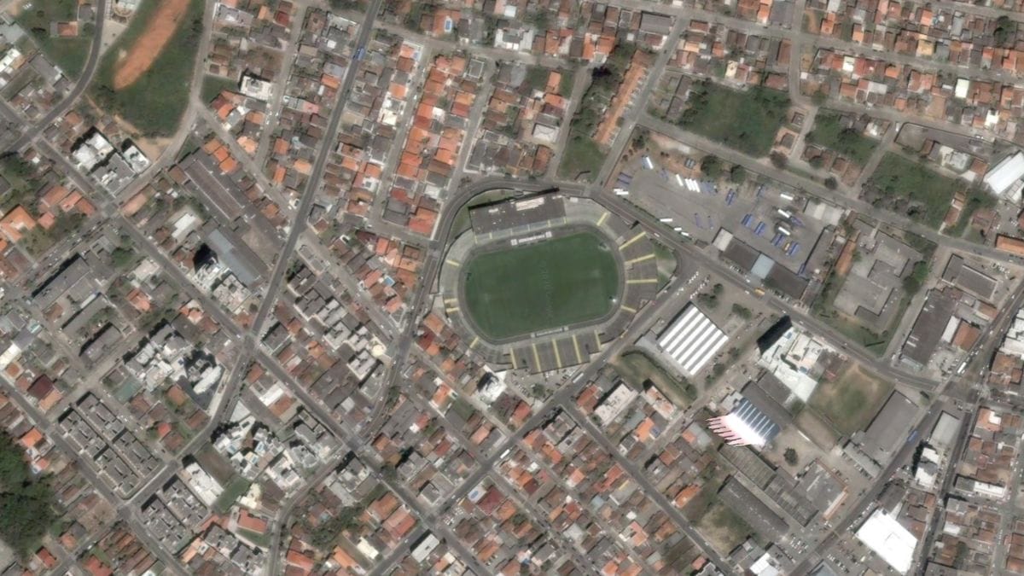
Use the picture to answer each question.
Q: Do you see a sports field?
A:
Yes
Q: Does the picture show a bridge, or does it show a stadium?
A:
stadium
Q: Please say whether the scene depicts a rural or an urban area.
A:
urban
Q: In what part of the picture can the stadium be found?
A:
center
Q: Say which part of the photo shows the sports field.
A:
center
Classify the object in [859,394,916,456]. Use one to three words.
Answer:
building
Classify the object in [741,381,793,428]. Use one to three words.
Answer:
building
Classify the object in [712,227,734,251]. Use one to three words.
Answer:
shed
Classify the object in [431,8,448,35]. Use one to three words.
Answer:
house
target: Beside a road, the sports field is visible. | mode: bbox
[464,228,620,339]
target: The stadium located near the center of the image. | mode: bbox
[425,186,671,376]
